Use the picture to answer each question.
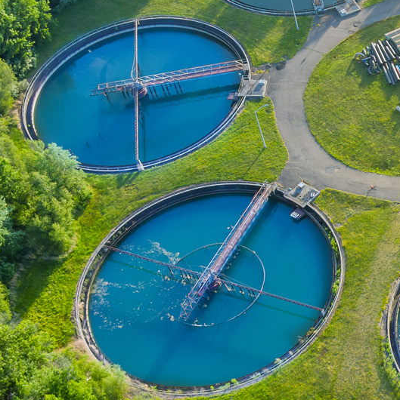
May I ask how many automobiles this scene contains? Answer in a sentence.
There are no automobiles in the image.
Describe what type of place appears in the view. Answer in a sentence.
This looks like an industrial area.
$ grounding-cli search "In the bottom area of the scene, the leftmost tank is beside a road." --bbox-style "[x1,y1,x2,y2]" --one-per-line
[73,179,345,396]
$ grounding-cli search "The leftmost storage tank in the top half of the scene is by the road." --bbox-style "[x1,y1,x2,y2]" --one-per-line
[18,13,253,172]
